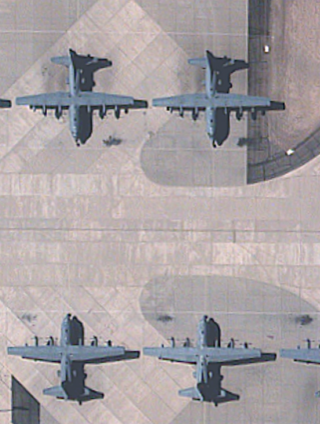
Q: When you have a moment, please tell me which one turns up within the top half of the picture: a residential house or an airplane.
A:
airplane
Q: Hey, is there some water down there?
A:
No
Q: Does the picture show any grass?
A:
No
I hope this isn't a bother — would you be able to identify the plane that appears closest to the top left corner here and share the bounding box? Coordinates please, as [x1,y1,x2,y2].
[16,48,134,141]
